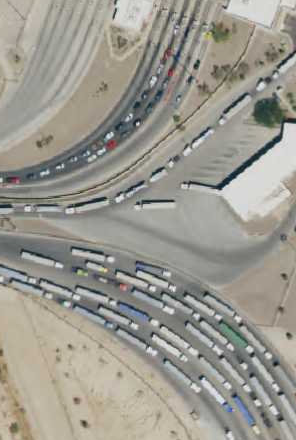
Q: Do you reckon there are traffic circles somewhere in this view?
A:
No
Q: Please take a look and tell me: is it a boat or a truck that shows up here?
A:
truck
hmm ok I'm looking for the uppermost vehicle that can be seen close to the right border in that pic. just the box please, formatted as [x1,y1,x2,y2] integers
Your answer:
[272,54,296,80]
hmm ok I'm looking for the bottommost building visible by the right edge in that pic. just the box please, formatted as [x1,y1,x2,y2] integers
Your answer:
[222,122,296,221]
